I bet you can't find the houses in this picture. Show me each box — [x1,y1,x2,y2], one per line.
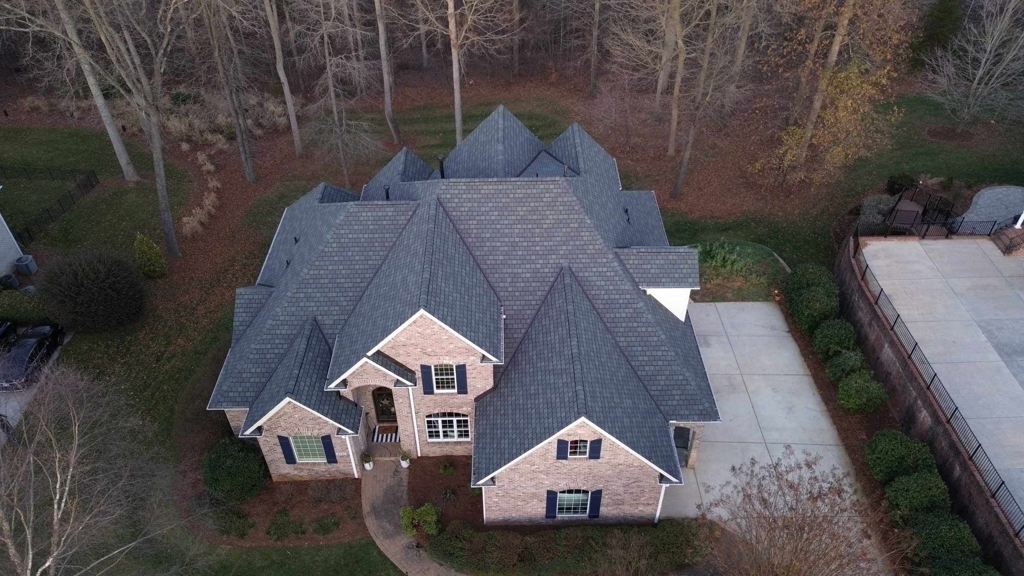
[204,105,725,529]
[0,216,22,275]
